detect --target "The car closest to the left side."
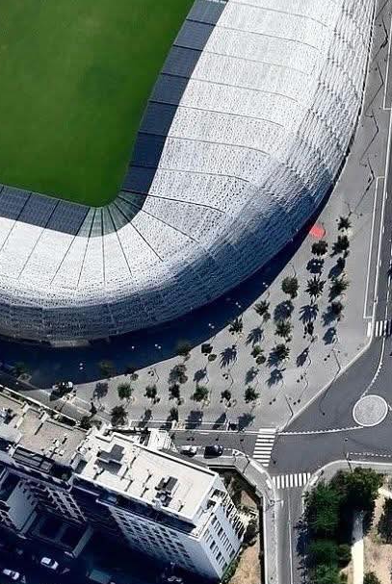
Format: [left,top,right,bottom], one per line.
[2,569,20,582]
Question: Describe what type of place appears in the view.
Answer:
sports ground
